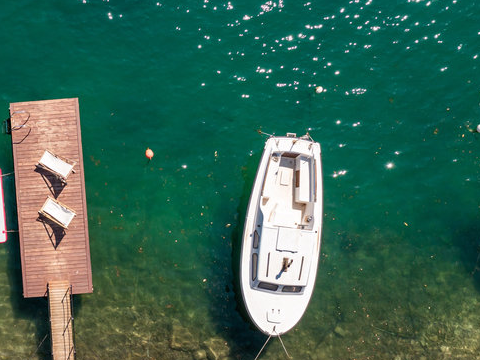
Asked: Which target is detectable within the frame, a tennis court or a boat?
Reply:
boat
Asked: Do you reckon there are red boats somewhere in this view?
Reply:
No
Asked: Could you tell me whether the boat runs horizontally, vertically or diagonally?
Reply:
vertically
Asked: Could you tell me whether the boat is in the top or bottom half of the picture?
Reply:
bottom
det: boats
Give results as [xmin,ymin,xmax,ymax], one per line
[239,131,323,337]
